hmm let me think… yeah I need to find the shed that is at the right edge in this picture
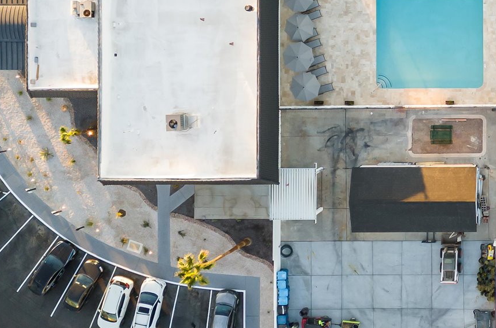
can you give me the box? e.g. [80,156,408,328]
[346,166,478,232]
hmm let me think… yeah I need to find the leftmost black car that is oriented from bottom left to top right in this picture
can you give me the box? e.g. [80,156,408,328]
[27,239,78,297]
